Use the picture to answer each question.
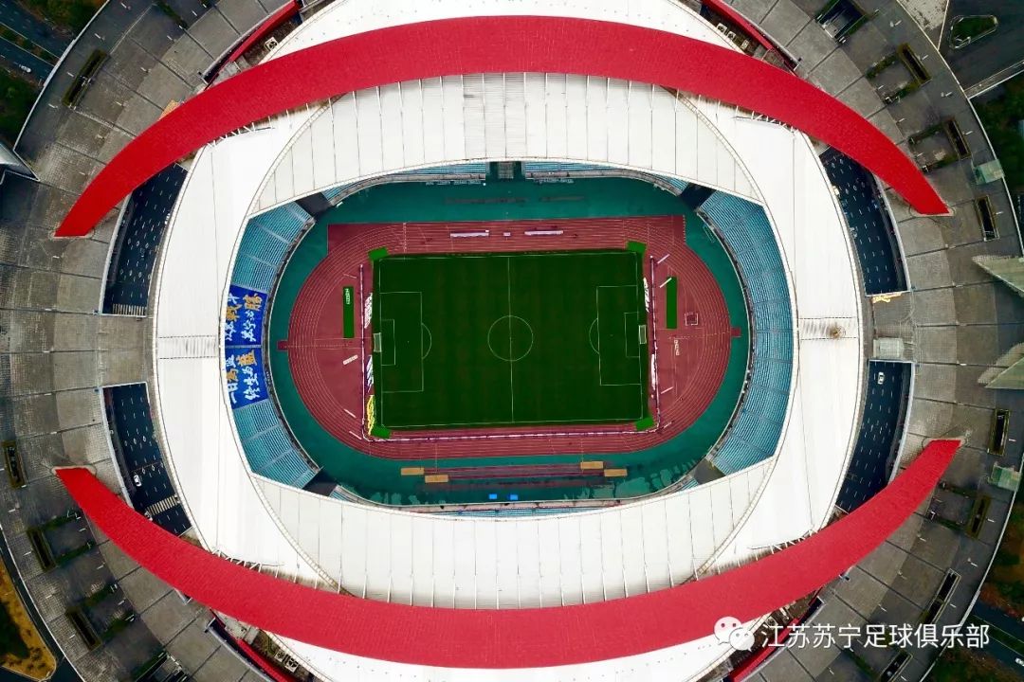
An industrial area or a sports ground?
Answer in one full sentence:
The picture captures a sports ground.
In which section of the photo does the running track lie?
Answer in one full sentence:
Look in the center portion of the view to spot the running track.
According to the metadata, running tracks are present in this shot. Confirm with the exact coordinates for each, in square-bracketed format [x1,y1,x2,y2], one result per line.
[278,215,740,464]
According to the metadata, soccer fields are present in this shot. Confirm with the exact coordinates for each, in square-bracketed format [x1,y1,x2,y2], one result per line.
[373,248,651,430]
